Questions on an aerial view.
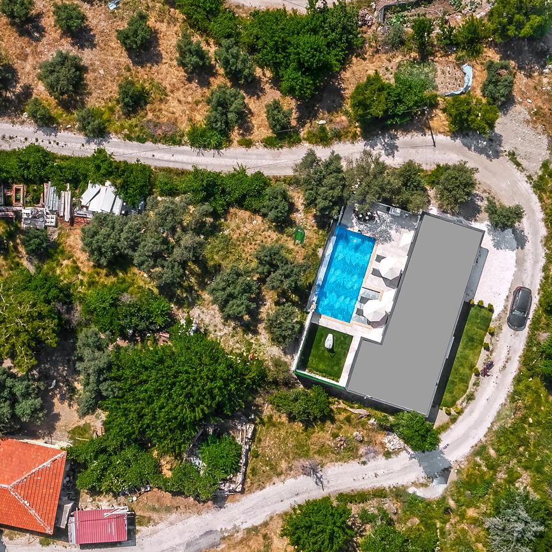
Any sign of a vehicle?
Yes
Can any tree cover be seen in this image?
Yes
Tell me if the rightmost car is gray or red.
gray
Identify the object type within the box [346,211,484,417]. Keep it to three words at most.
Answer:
house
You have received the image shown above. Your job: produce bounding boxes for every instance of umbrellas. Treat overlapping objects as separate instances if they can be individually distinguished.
[364,299,386,322]
[379,256,402,279]
[399,229,416,249]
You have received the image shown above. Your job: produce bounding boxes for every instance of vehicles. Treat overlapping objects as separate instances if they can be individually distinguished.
[506,286,532,330]
[482,360,497,377]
